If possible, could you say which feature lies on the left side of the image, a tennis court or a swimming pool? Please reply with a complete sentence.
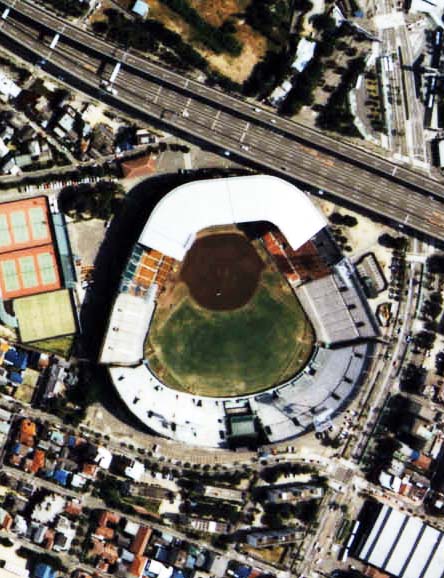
Visible on the left side of the image is a tennis court.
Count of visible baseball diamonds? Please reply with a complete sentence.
I count just 1 baseball diamond.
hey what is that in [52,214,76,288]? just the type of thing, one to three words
building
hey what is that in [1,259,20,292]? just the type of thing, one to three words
tennis court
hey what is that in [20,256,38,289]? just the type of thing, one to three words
tennis court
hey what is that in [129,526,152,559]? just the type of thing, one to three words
house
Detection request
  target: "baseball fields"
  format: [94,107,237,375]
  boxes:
[143,225,319,402]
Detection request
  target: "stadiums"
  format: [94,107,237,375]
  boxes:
[100,176,382,450]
